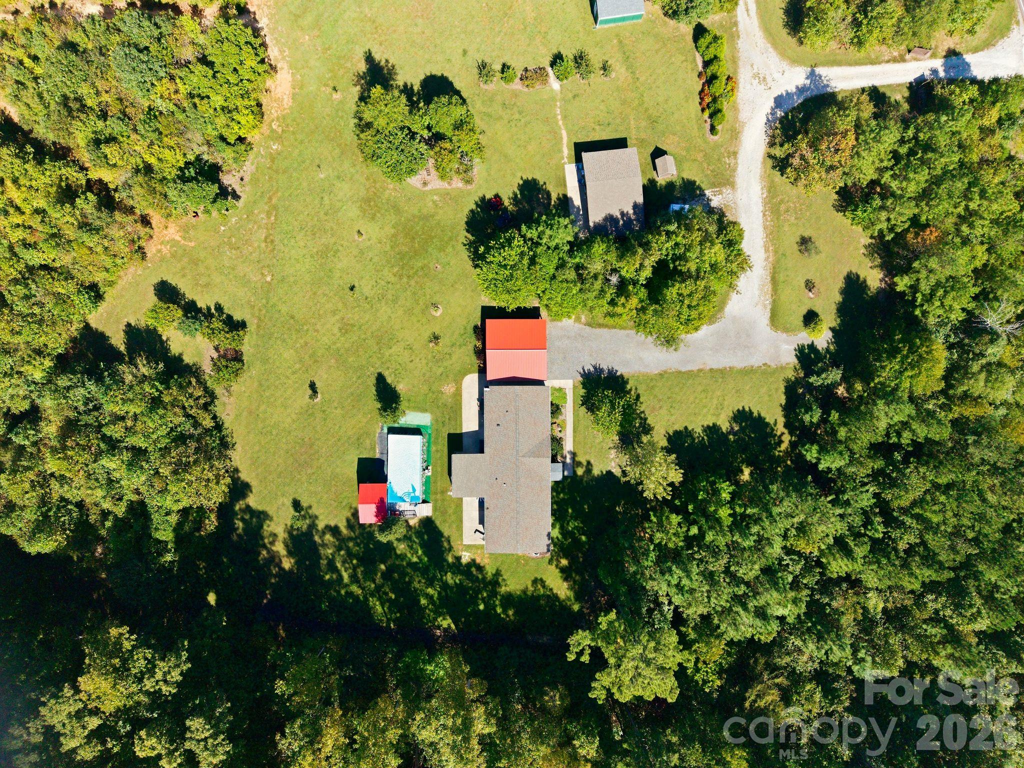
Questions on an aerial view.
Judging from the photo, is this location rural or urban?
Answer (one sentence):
This place is rural.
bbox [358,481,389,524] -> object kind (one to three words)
shed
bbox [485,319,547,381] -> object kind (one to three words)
building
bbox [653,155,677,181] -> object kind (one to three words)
shed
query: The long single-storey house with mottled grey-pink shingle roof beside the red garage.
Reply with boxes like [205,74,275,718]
[451,386,562,557]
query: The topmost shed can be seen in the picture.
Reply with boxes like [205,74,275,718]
[594,0,646,29]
